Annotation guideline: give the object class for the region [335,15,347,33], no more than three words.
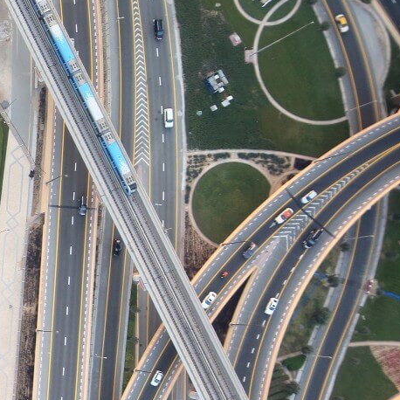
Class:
vehicle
